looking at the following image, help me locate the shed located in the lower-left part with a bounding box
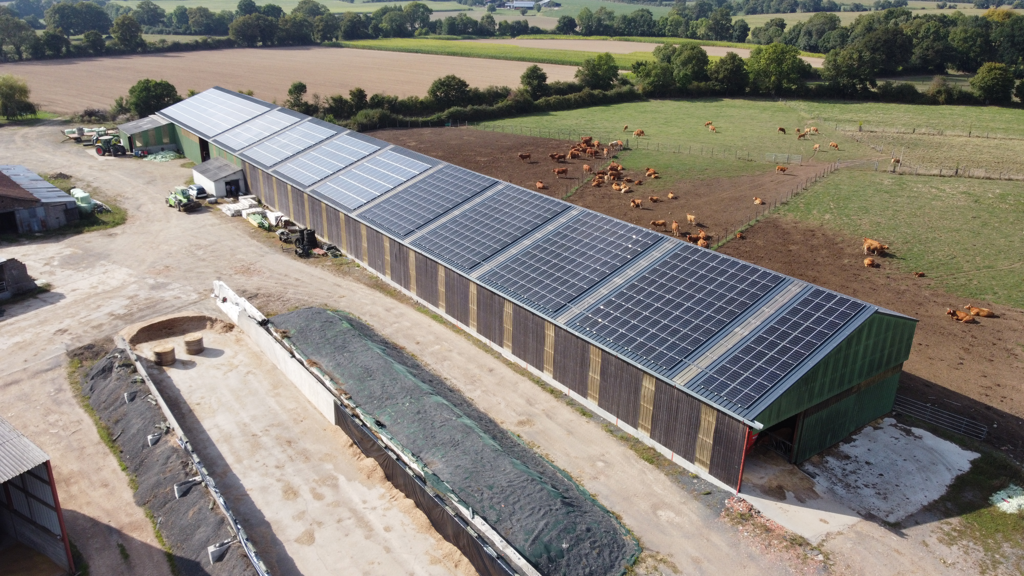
[0,419,79,576]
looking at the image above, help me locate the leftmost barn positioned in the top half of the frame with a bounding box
[0,166,86,235]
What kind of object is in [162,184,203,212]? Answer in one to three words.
work vehicle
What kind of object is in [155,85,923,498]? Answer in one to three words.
barn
